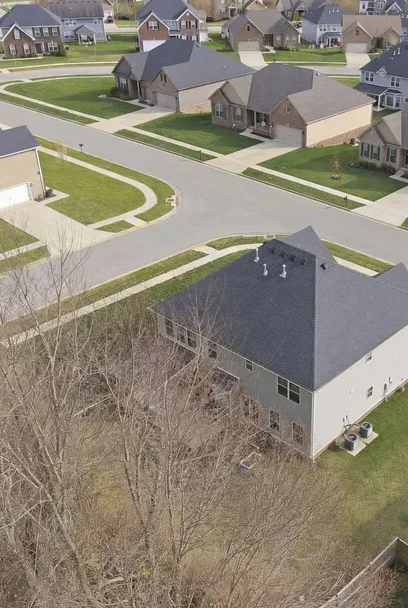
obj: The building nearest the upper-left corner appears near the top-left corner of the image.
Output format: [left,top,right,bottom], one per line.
[0,1,63,58]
